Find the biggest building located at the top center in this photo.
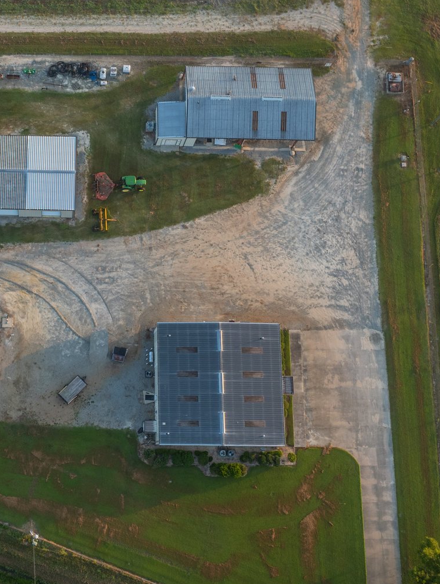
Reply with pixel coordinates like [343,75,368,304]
[160,65,317,152]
